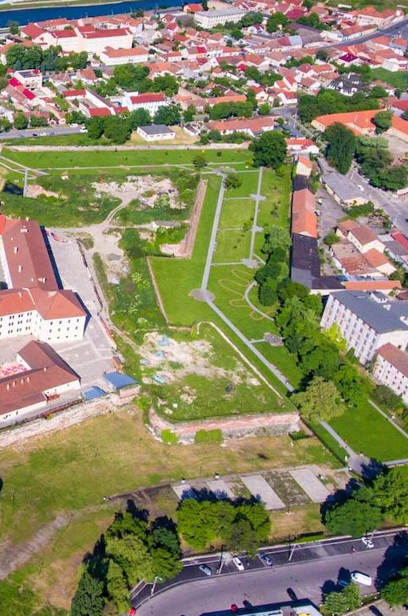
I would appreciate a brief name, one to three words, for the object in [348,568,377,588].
vehicle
